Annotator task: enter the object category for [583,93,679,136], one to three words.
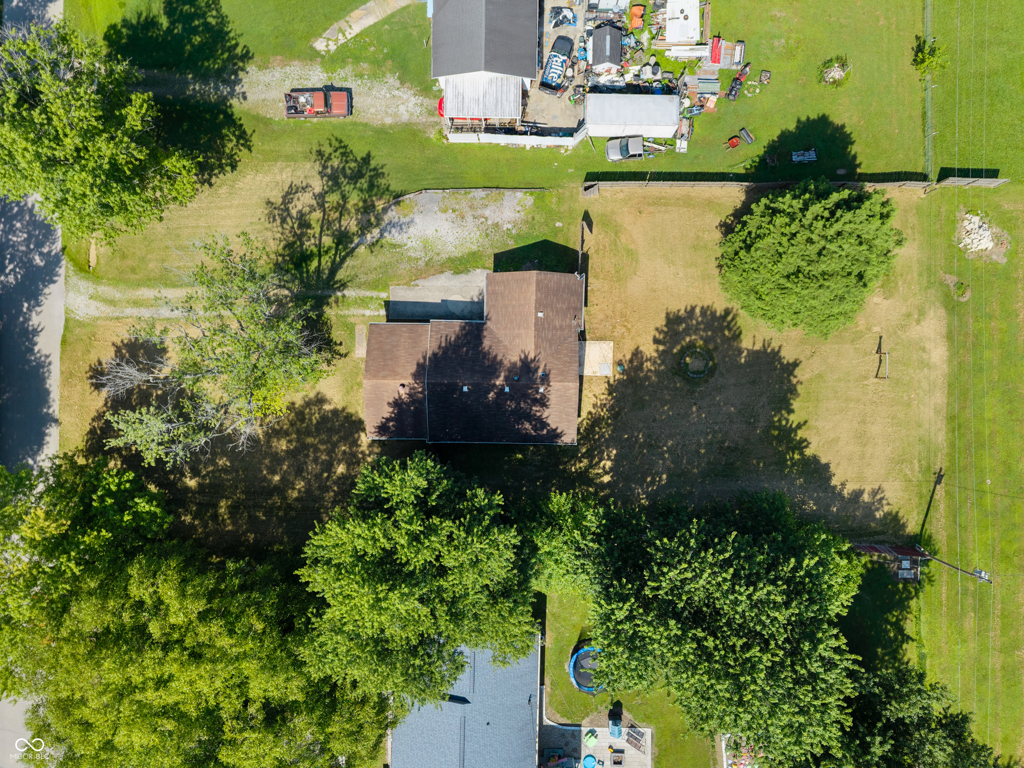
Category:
trailer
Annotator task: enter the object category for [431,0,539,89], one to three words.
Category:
house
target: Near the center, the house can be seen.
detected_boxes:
[364,270,586,446]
